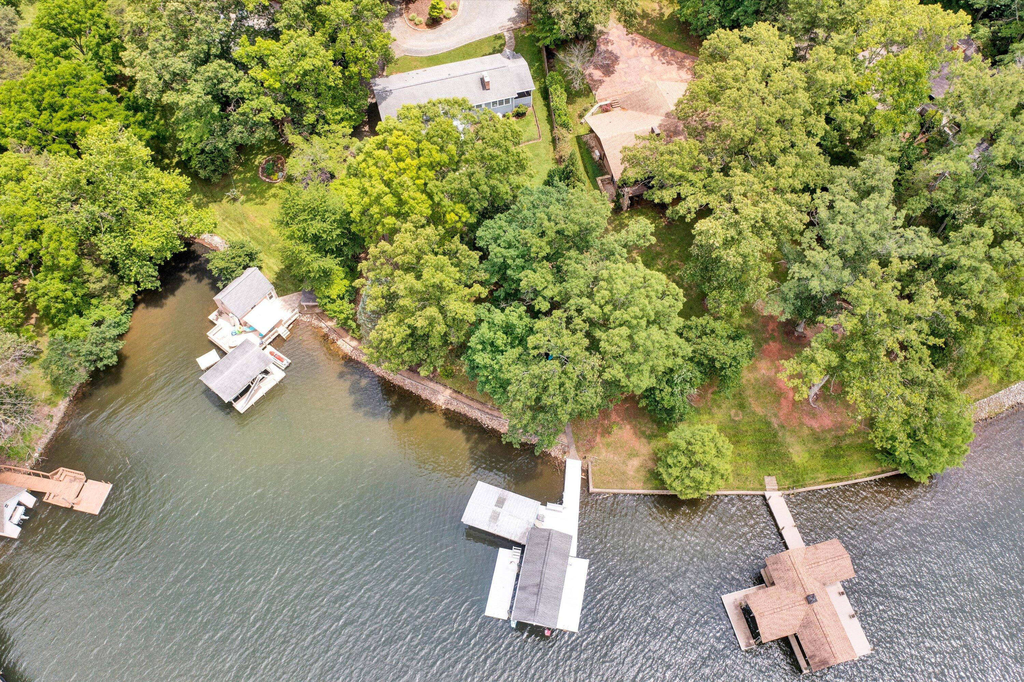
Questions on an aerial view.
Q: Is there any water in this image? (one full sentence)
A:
Yes, water shows up in the scene.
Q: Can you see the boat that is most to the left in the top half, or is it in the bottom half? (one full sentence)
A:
Seen from above, the boat that is most to the left lies in the bottom half of the view.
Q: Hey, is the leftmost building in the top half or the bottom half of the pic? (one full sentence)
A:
You can find the leftmost building in the bottom half.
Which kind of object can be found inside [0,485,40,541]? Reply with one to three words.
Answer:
building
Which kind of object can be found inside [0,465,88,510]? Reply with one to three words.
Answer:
pier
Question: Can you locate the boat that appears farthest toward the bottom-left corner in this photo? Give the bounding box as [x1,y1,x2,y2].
[8,505,33,527]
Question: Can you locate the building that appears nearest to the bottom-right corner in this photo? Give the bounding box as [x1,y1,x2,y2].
[720,538,873,674]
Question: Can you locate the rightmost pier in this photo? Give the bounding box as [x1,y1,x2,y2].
[485,458,589,633]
